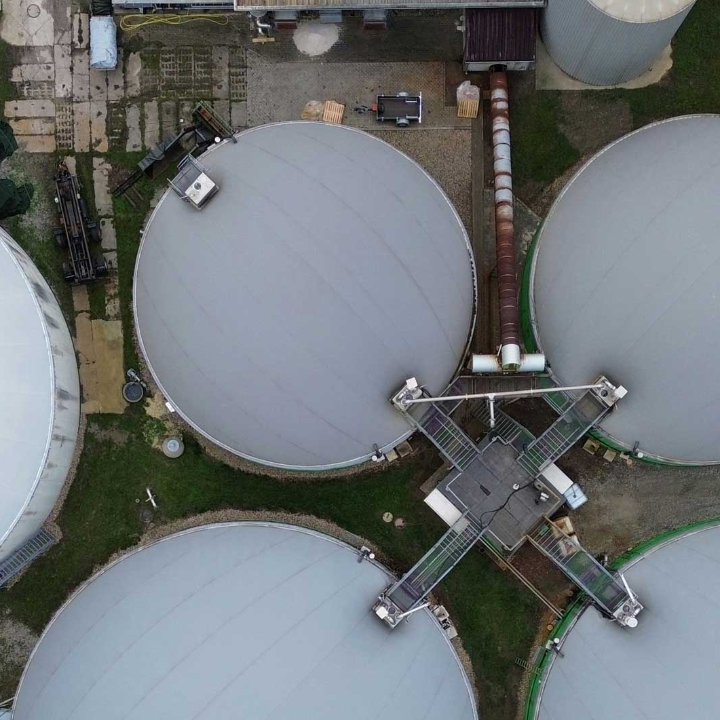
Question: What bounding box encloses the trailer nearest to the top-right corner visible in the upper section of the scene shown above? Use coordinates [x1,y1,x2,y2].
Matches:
[352,90,422,131]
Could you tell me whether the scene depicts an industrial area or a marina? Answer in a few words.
industrial area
